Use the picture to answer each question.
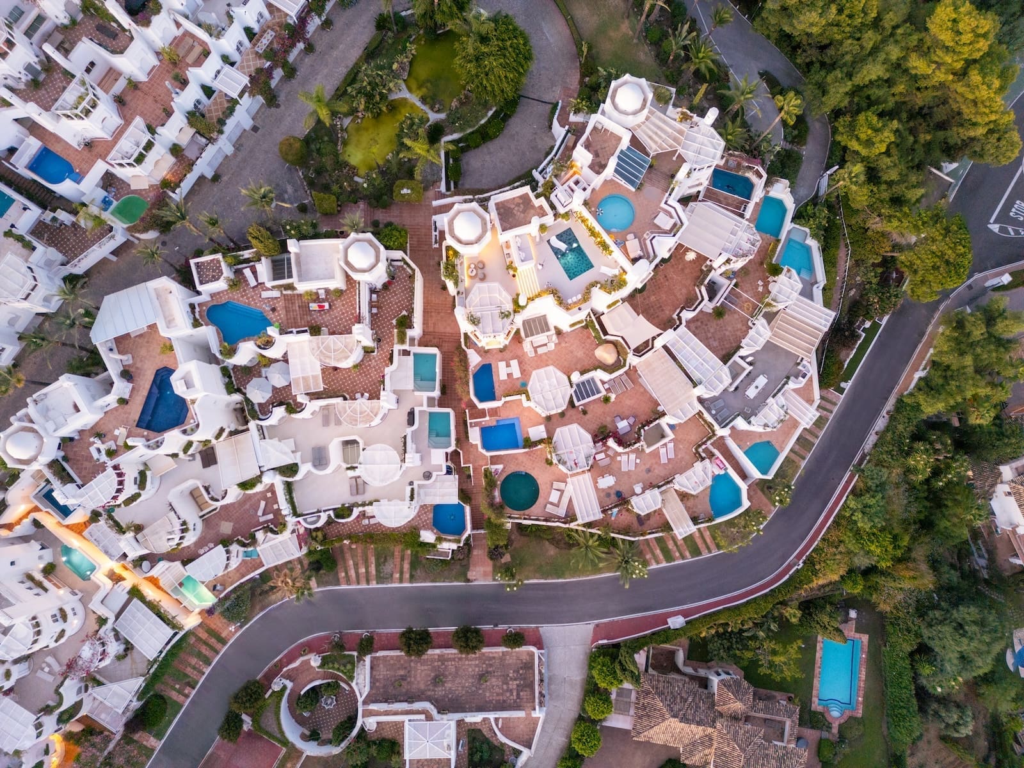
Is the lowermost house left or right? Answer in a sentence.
You can find the lowermost house on the right side of the picture.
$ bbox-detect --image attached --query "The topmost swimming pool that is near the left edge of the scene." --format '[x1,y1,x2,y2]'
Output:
[26,148,86,187]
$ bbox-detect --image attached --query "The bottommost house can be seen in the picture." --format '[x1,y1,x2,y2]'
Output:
[629,659,808,768]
